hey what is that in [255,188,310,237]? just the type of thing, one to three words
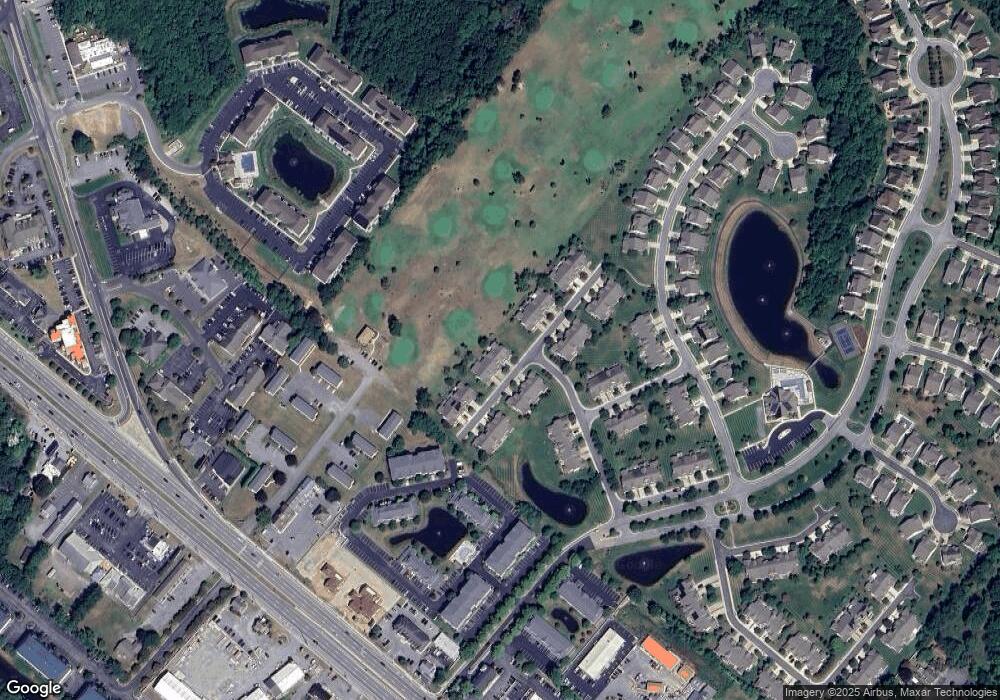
building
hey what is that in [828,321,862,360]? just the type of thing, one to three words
sports court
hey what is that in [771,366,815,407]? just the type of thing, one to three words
swimming pool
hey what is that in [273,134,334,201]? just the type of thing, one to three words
pond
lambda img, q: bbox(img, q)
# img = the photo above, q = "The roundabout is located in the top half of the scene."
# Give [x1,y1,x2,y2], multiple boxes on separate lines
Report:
[908,39,967,97]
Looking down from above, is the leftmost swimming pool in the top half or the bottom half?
top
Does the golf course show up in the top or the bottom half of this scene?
top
